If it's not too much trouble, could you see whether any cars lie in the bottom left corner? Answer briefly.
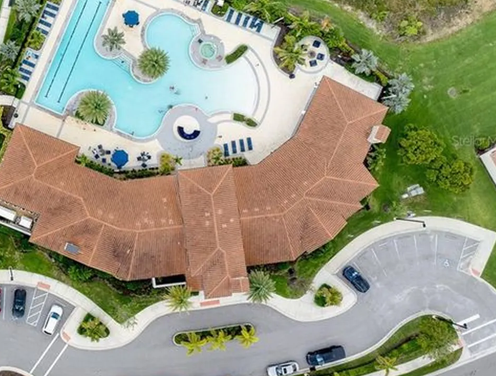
Yes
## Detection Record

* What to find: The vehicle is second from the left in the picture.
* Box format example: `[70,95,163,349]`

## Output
[43,303,61,337]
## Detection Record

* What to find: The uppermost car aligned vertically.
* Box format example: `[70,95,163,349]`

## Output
[12,288,26,320]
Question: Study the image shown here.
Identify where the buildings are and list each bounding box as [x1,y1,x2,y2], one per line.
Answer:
[0,75,396,303]
[481,149,496,187]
